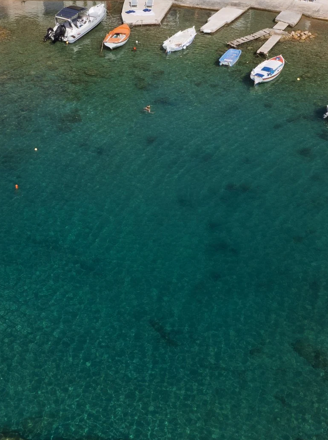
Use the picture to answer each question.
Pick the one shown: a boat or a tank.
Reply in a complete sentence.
Looking from above, you can make out a boat.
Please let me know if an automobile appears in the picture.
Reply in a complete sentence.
No, the picture doesn't show any automobile.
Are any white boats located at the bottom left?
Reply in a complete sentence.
No, looking at the bottom left, there is no white boat.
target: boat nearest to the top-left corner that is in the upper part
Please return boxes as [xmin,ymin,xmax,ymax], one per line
[47,1,107,47]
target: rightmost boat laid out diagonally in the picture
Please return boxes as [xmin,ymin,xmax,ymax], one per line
[252,49,283,90]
